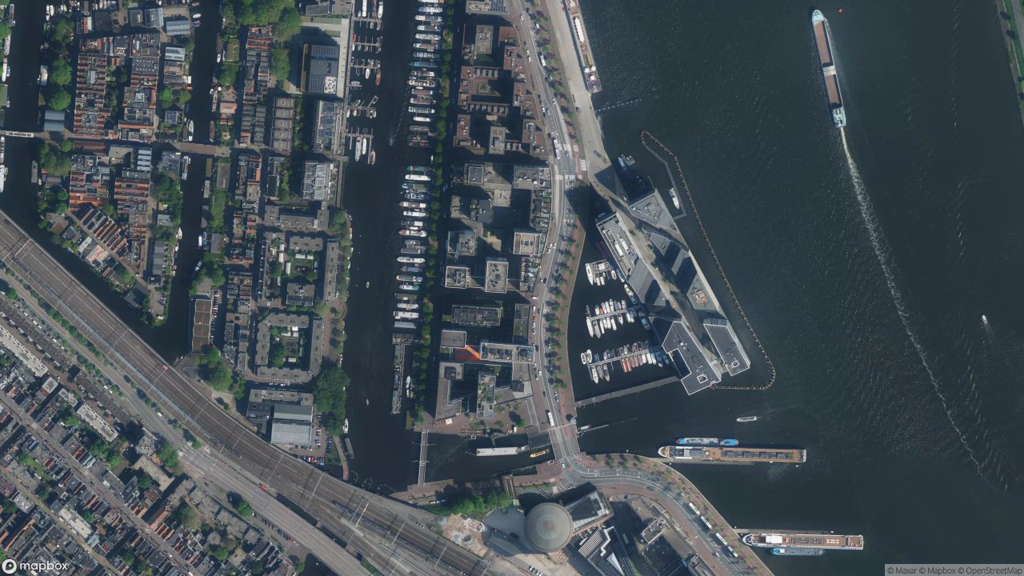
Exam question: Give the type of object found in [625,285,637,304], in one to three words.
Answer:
boat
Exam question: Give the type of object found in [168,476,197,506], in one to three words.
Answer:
building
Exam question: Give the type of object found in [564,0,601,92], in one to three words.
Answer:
ship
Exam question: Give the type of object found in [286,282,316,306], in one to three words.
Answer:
building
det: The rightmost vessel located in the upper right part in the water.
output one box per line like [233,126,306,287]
[811,9,845,128]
